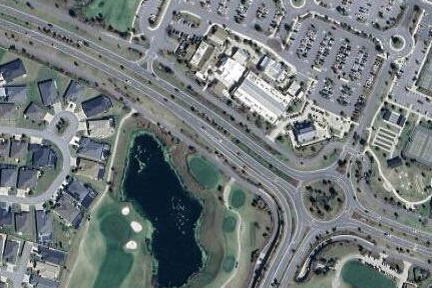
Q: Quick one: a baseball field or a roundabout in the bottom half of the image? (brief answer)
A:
roundabout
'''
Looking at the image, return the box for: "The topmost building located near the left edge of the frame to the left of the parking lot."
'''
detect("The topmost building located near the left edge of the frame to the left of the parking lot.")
[0,57,26,82]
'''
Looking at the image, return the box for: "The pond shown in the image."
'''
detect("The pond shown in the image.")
[124,132,202,288]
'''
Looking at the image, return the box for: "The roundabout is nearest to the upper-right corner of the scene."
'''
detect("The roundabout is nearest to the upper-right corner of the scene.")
[383,28,411,57]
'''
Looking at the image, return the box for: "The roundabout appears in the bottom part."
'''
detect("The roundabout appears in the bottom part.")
[292,168,355,231]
